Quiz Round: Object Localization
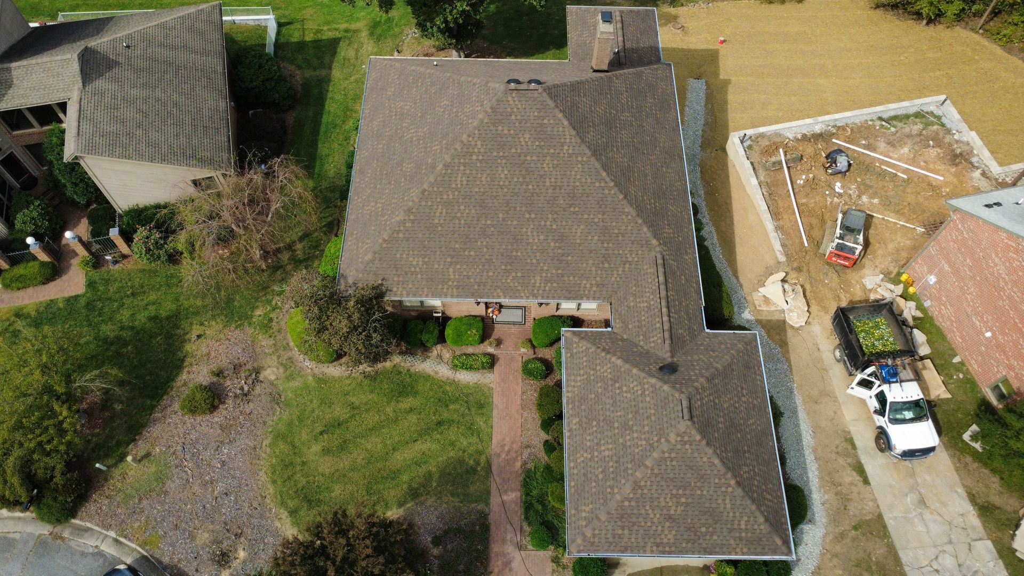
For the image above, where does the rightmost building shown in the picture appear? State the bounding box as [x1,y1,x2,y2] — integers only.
[901,173,1024,408]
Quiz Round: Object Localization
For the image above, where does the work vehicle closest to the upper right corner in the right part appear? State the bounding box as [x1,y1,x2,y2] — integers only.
[812,206,865,275]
